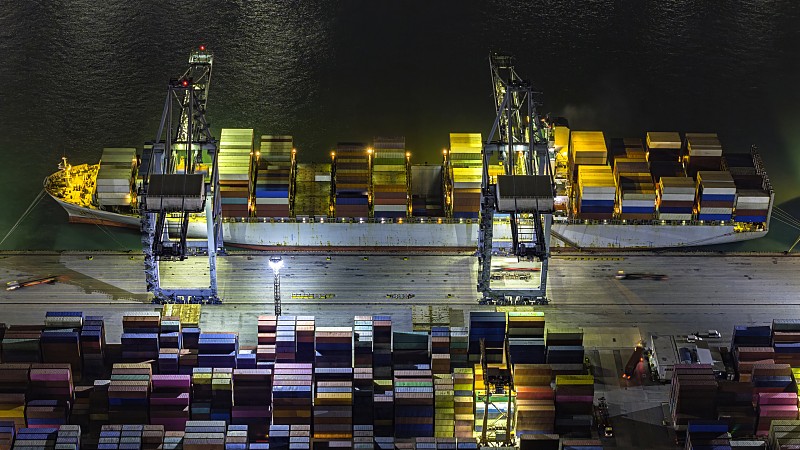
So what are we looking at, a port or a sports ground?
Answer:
port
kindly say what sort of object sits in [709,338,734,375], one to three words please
shed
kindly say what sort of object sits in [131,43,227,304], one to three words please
container crane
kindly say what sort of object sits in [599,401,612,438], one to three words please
vehicle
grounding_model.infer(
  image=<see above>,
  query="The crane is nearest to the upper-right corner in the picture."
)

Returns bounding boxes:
[470,43,559,304]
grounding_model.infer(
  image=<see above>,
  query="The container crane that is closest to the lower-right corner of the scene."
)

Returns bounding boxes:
[480,336,519,439]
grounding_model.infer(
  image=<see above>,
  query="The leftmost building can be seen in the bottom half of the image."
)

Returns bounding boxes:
[649,334,680,378]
